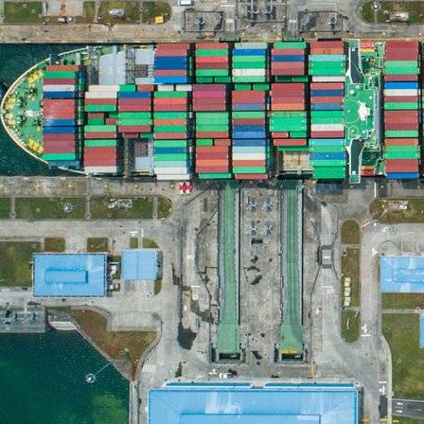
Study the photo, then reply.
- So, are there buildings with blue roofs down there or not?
Yes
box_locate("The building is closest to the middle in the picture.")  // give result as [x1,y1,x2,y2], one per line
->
[121,250,160,281]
